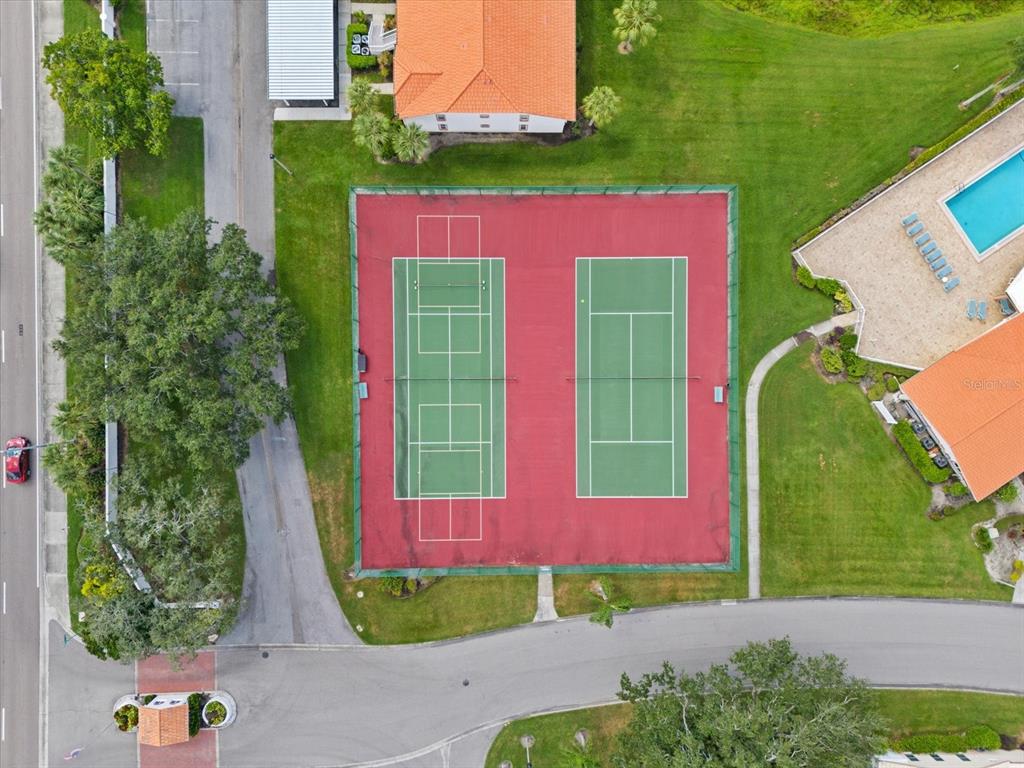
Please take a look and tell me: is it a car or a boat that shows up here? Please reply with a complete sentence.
Of the two, only a car appears.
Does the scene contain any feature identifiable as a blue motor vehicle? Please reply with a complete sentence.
No, I can't see a single blue motor vehicle in this photo.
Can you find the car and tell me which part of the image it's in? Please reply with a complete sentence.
The car sits in the left section of the image.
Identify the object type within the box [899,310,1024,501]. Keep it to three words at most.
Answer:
building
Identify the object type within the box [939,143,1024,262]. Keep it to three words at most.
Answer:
swimming pool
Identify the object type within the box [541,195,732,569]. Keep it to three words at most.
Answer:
tennis court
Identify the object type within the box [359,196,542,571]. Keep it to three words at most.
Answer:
tennis court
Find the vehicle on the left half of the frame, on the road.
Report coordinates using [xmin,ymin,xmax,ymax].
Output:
[2,438,32,486]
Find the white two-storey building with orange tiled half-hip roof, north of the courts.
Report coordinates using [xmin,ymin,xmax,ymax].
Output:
[391,0,577,132]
